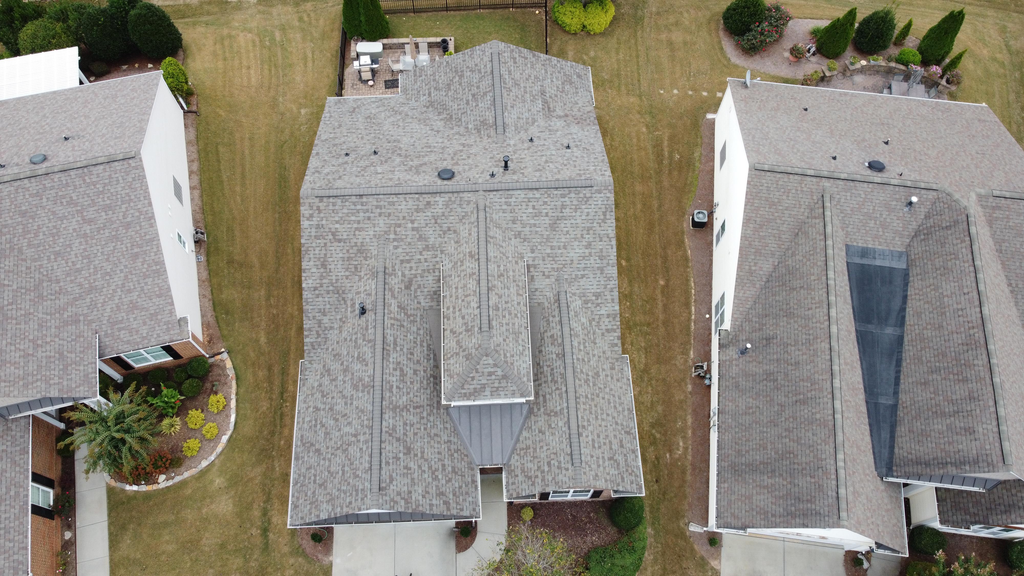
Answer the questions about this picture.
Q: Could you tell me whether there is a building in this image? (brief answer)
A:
Yes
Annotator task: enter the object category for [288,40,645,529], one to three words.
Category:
house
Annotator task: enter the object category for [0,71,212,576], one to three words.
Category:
house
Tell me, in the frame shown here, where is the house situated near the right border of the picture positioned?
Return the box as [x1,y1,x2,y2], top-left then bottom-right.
[699,78,1024,557]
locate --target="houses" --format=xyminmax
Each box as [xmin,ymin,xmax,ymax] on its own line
[288,40,645,529]
[0,71,212,576]
[699,78,1024,557]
